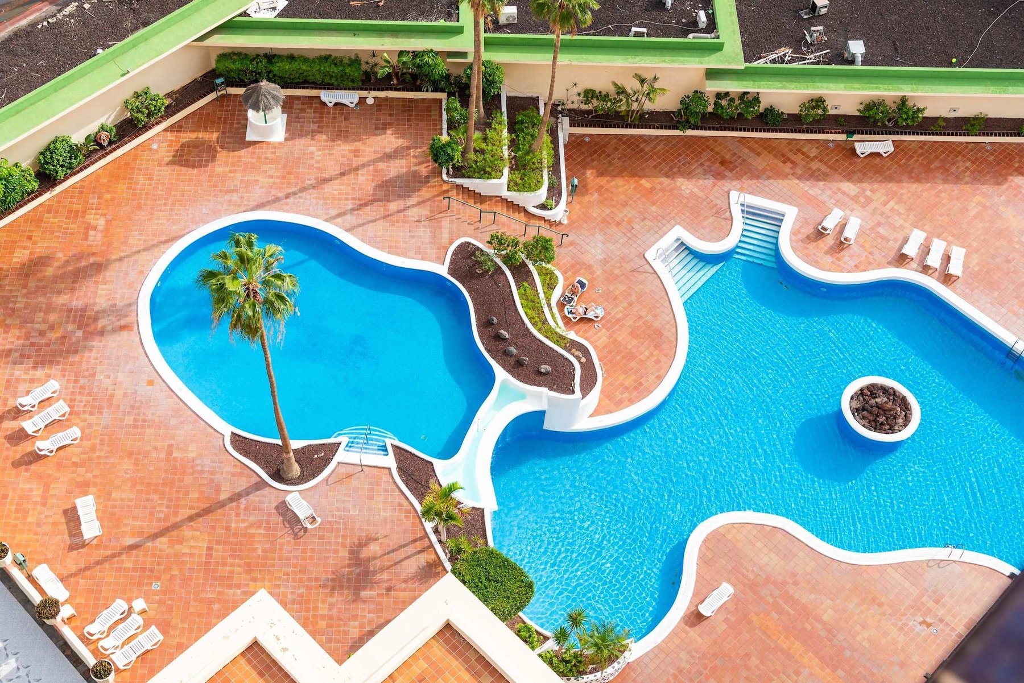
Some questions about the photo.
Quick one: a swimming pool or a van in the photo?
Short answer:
swimming pool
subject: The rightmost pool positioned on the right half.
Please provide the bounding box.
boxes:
[493,190,1024,654]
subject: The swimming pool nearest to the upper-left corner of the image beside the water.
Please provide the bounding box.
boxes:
[137,210,506,470]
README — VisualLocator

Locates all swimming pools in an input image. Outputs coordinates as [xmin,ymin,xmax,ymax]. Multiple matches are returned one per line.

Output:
[137,210,506,470]
[493,190,1024,654]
